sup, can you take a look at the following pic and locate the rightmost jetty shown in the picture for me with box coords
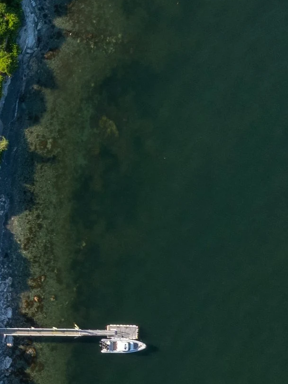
[106,324,139,339]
